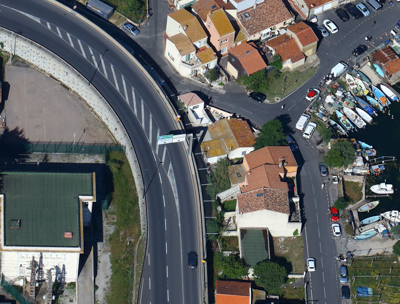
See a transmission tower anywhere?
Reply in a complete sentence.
Yes, the photo shows a transmission tower.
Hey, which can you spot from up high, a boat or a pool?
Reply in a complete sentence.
The image shows a boat.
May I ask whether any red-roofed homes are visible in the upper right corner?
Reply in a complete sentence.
Yes, the scene does show a red-roofed home in the upper right corner.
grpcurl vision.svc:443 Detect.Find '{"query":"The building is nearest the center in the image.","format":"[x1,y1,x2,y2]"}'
[201,139,227,166]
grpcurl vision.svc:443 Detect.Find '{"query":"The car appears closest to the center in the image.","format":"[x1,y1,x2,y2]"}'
[248,90,266,103]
